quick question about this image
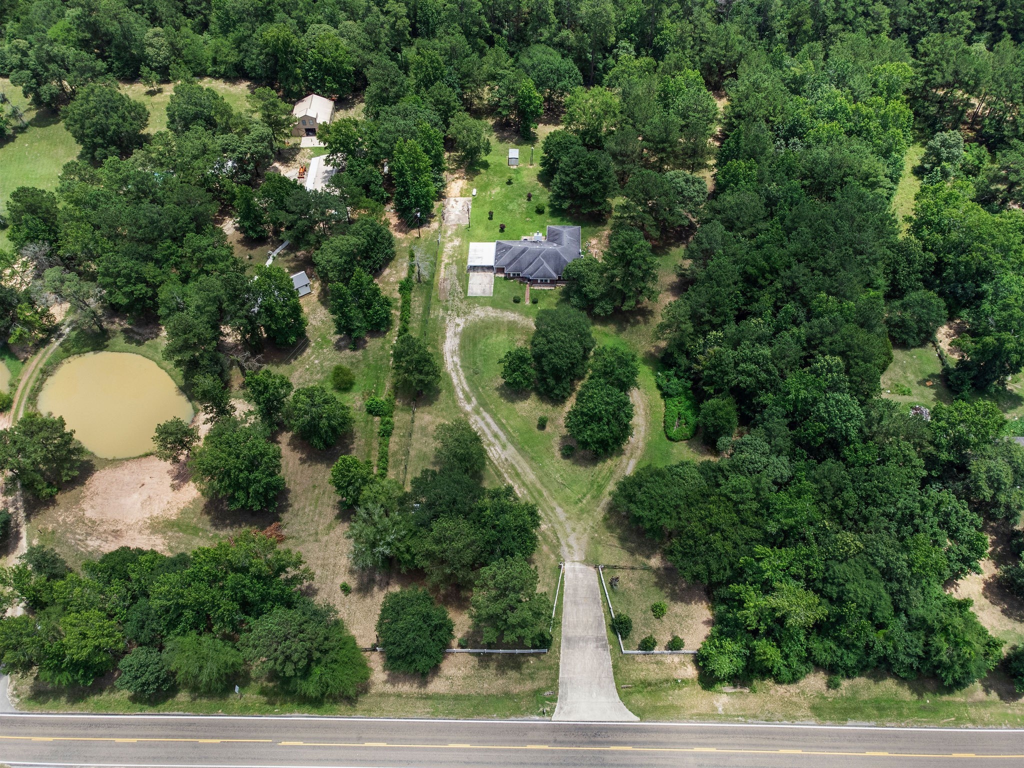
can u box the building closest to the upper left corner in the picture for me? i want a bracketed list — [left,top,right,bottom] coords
[289,92,334,137]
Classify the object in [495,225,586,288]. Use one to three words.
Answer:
house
